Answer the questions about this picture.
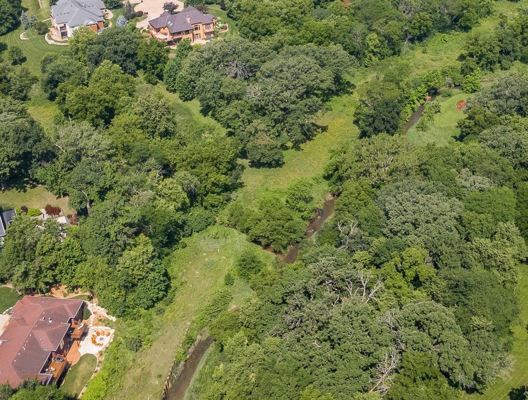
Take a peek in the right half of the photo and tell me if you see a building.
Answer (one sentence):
No, I see no building in the right half of the photo.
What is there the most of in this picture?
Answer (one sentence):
The largest share of the image is taken up by trees.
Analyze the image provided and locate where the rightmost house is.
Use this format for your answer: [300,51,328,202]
[151,4,216,49]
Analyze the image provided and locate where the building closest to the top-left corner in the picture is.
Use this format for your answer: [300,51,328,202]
[51,0,106,38]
